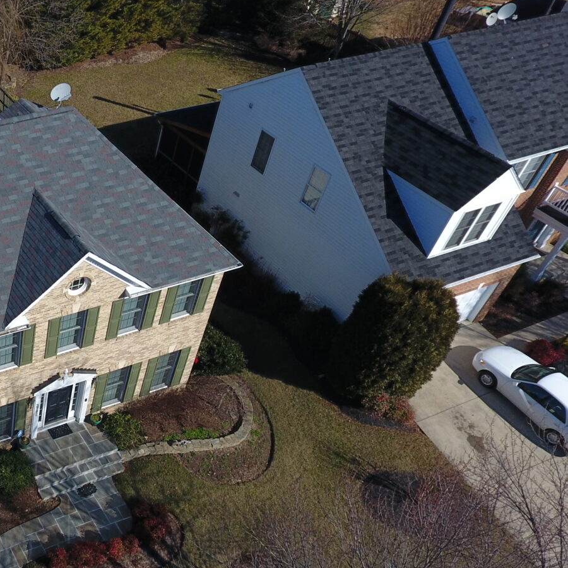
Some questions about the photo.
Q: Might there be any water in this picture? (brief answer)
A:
No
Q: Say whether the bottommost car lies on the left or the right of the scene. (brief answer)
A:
right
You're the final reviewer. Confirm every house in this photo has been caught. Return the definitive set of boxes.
[0,88,245,450]
[145,0,568,349]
